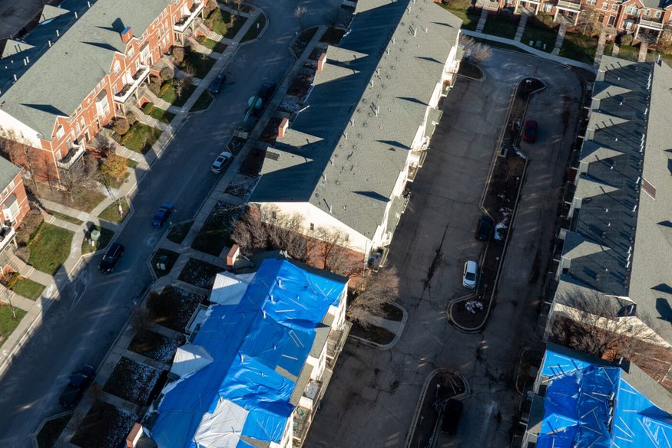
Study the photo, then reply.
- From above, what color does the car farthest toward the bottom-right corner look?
black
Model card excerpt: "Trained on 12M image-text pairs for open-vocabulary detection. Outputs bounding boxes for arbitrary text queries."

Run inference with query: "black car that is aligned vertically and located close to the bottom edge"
[440,394,464,436]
